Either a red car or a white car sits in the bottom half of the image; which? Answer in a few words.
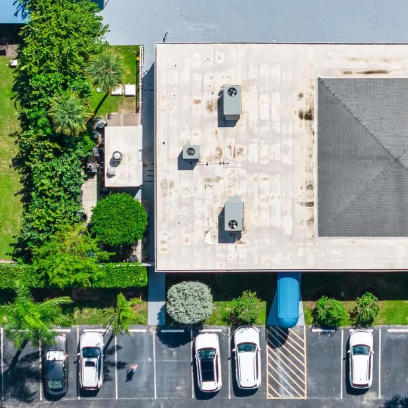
white car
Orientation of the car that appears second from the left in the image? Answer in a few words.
vertically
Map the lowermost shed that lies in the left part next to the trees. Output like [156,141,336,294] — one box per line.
[104,125,149,187]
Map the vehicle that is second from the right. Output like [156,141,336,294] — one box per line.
[233,326,261,389]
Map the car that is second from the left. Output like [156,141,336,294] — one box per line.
[76,329,105,391]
